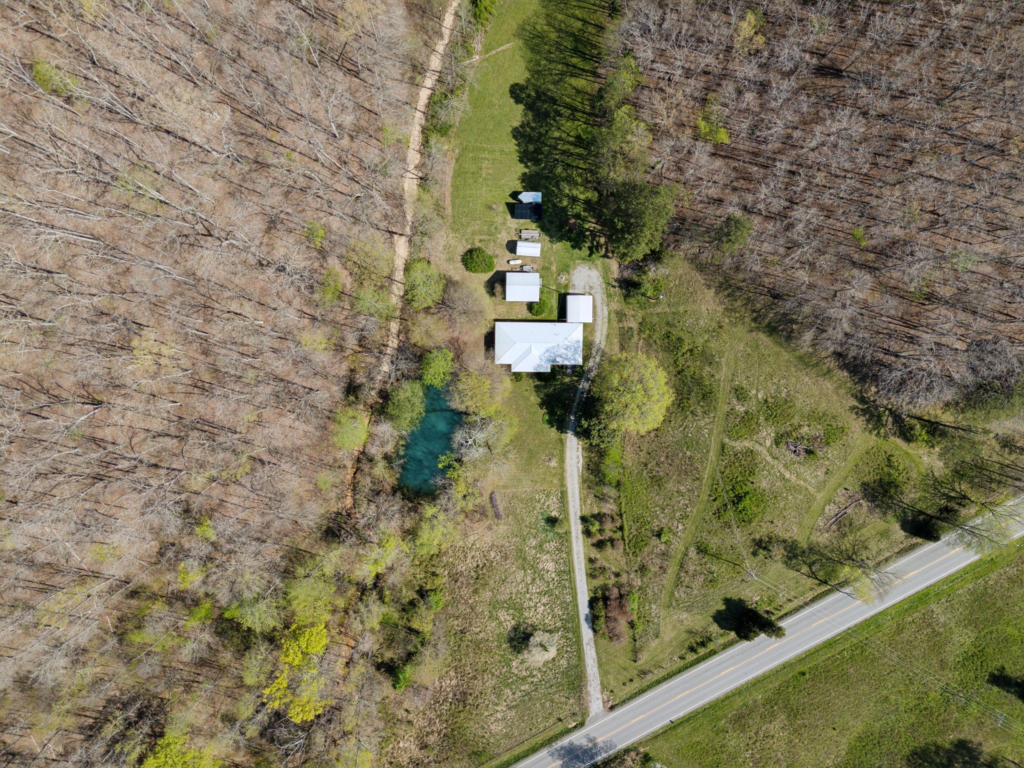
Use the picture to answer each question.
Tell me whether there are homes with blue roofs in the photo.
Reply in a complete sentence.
No, no home with a blue roof is visible in the scene.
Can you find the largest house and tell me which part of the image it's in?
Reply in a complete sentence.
You can find the largest house in the center area of the picture.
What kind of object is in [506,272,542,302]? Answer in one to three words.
building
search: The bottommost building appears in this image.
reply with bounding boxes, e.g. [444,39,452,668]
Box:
[495,322,583,373]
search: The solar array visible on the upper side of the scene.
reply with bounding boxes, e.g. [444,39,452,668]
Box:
[515,204,542,220]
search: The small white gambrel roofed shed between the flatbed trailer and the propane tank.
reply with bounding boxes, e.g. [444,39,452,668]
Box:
[517,241,541,257]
